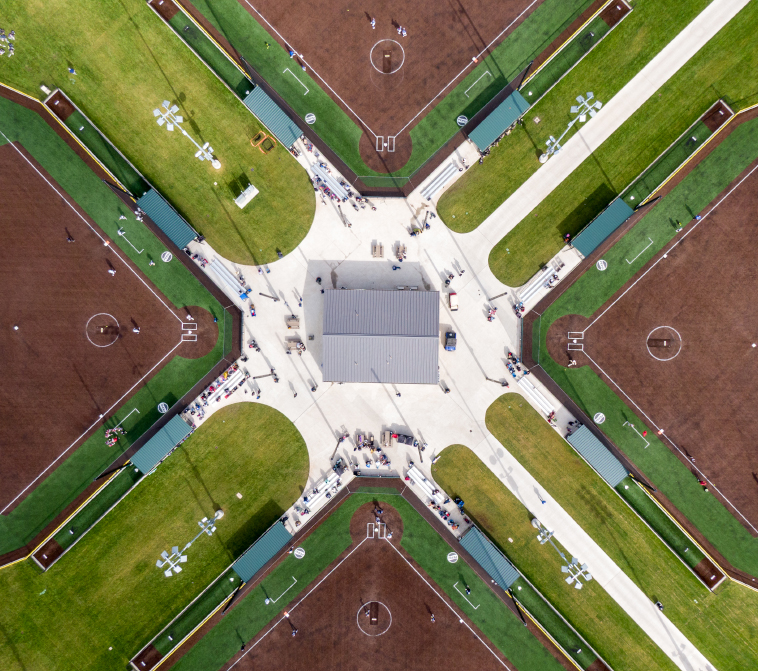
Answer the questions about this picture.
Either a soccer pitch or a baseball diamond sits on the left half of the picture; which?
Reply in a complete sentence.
You can see a baseball diamond on the left half of the picture.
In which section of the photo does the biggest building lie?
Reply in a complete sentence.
The biggest building sits in the center section of the image.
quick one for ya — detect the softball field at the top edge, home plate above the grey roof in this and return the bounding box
[175,0,611,196]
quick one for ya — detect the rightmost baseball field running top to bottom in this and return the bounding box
[522,106,758,590]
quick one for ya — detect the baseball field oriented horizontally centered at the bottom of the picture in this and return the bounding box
[152,478,583,671]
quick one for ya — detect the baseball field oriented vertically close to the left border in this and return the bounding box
[0,84,241,567]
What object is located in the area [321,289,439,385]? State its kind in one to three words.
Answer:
building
